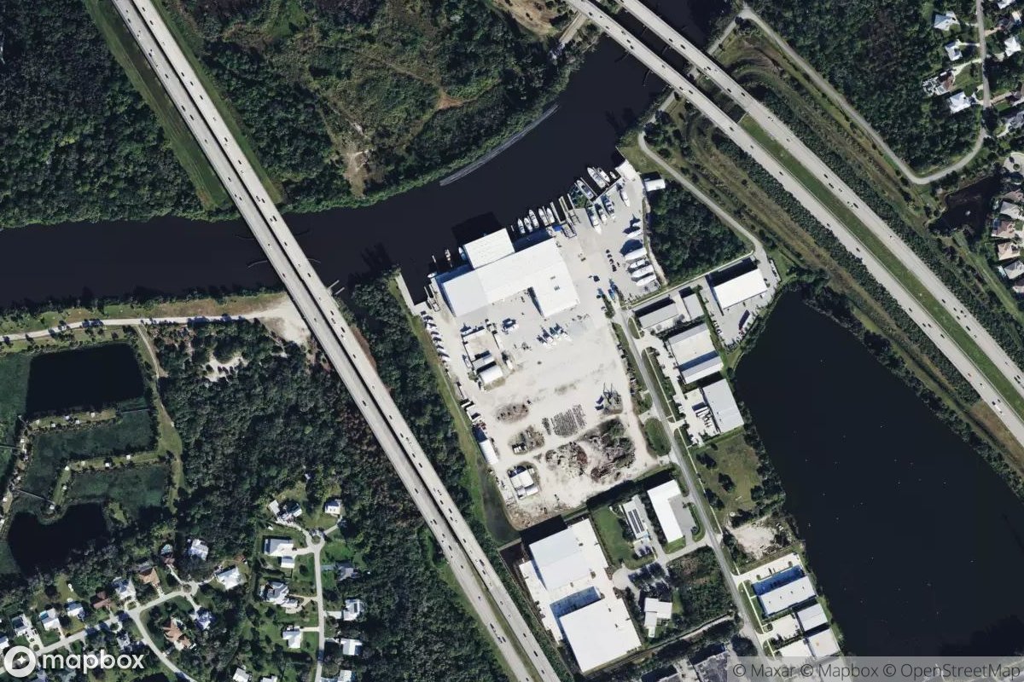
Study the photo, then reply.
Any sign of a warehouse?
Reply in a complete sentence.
Yes, the frame does contain a warehouse.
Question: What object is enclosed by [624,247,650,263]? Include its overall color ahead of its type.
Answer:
white boat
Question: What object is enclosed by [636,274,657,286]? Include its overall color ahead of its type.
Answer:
white boat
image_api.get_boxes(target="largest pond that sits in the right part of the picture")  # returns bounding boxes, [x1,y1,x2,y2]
[929,167,1014,245]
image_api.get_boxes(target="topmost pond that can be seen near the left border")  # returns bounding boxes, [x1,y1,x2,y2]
[27,342,144,415]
